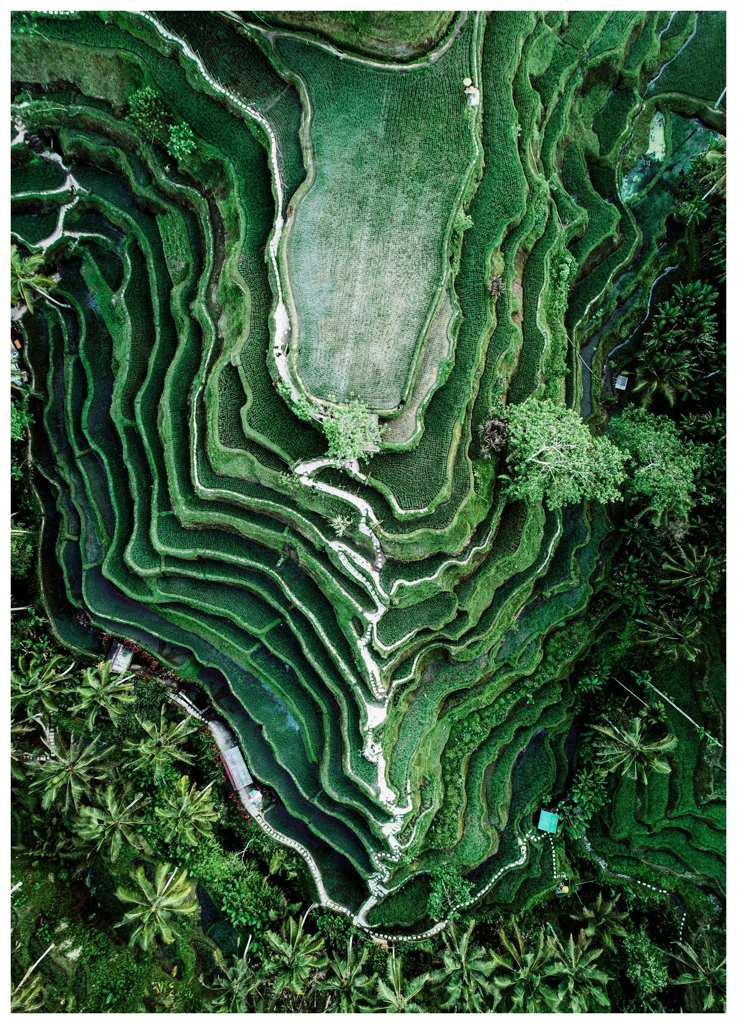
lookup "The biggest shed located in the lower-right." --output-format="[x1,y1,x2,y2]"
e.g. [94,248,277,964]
[535,808,559,834]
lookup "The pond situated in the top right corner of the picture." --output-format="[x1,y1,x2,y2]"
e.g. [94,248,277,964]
[622,112,665,201]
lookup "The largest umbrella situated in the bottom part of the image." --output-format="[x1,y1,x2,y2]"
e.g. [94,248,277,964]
[248,789,262,804]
